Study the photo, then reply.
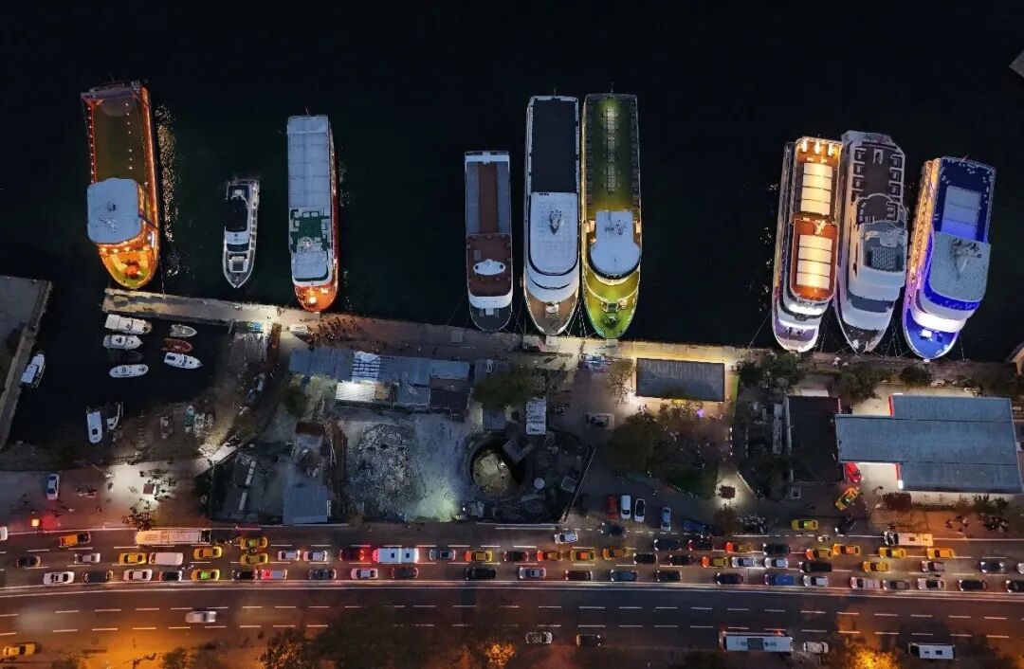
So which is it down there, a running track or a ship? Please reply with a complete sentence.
I can see a ship in this picture.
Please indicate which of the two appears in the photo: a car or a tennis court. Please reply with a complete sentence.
Visible in the photo is a car.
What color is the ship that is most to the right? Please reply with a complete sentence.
From above, the ship that is most to the right appears blue.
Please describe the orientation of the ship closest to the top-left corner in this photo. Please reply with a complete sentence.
The ship closest to the top-left corner is oriented up and down.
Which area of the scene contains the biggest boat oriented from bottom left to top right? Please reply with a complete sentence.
The biggest boat oriented from bottom left to top right is located in the left region of the scene.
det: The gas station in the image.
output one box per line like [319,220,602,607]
[836,393,1023,494]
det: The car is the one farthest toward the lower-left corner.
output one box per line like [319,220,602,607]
[3,642,36,658]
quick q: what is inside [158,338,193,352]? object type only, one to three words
boat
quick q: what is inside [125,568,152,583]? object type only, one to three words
car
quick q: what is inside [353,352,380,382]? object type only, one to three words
shed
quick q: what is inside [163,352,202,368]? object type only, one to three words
boat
